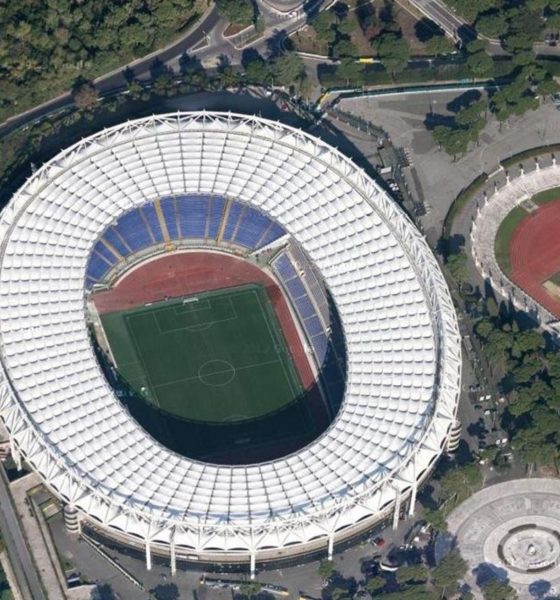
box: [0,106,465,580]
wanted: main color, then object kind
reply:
white stadium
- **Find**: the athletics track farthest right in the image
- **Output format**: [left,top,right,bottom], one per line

[508,200,560,317]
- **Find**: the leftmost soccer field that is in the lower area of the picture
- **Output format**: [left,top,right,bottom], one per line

[102,282,324,474]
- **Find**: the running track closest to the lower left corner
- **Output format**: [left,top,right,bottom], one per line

[73,250,332,492]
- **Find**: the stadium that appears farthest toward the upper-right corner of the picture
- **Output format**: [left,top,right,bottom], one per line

[470,162,560,342]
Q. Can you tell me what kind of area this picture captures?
sports ground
